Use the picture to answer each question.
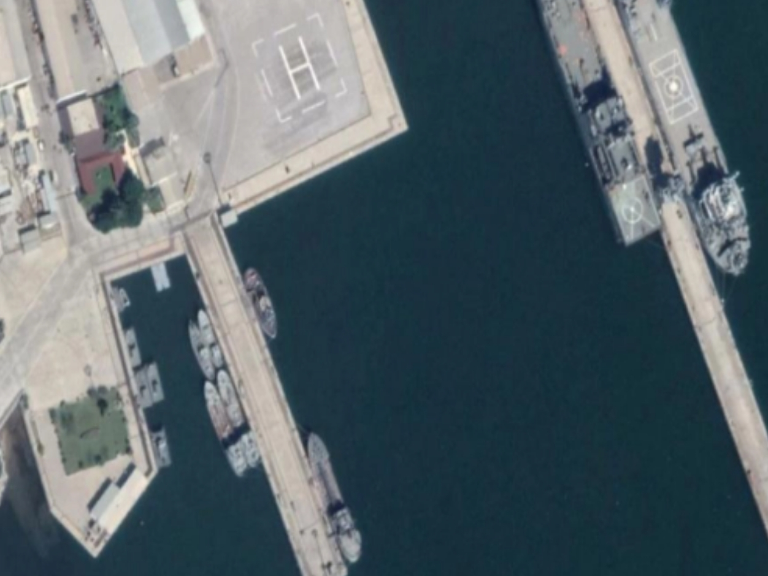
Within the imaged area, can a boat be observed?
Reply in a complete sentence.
Yes, there's a boat down there.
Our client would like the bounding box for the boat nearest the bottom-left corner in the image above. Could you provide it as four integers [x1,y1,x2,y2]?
[151,430,171,467]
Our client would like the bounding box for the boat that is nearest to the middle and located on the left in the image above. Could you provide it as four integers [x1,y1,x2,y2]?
[244,267,277,338]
